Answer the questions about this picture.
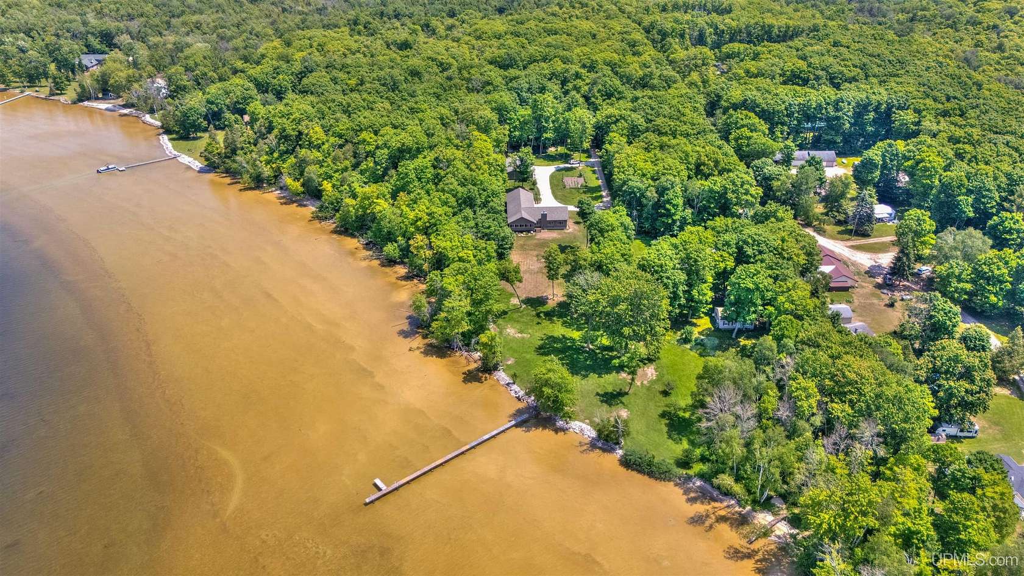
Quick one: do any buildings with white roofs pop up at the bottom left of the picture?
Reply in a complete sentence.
No, the scene shows no building with a white roof at the bottom left of the picture.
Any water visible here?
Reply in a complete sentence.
Yes, some water is visible.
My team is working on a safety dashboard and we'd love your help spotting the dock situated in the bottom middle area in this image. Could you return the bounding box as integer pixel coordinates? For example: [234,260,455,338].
[366,412,541,509]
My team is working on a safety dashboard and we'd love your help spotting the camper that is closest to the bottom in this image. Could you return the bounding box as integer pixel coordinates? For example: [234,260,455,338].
[937,419,978,439]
